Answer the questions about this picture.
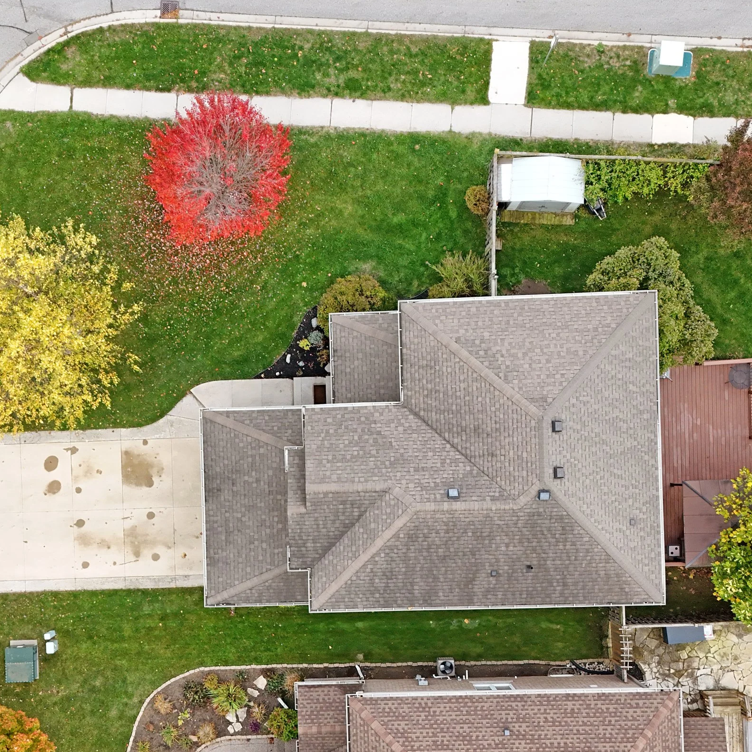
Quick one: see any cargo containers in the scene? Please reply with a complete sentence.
No, the photo shows no cargo container.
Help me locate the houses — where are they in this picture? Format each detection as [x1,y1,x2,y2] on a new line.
[201,289,665,613]
[279,665,728,752]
